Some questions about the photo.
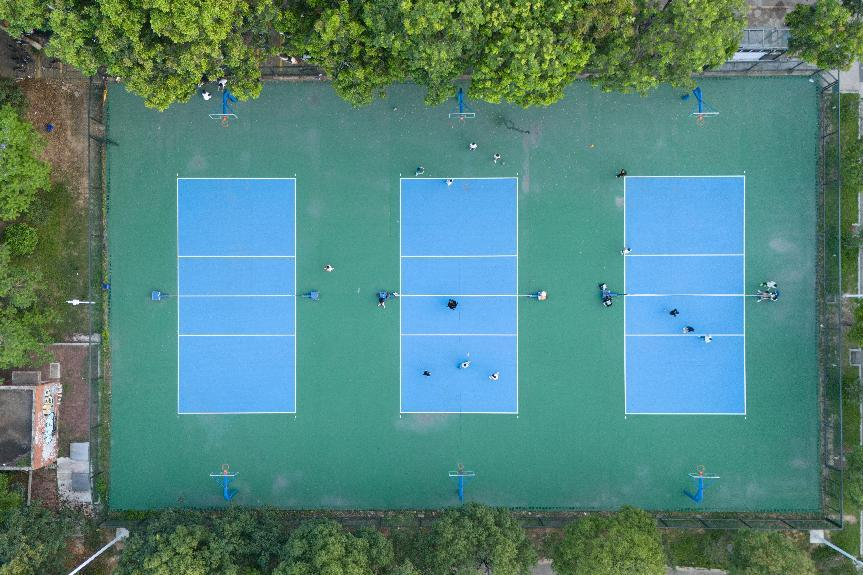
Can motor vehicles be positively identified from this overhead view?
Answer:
No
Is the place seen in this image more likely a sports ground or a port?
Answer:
sports ground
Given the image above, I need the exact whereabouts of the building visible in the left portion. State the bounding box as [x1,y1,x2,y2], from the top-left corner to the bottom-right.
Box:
[0,380,59,470]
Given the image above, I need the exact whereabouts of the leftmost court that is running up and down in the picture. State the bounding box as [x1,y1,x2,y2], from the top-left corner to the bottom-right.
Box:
[178,174,296,418]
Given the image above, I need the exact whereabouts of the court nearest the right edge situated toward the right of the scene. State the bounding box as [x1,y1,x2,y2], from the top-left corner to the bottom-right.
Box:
[624,171,747,420]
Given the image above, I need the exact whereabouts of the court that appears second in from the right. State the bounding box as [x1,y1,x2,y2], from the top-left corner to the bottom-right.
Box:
[400,173,518,417]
